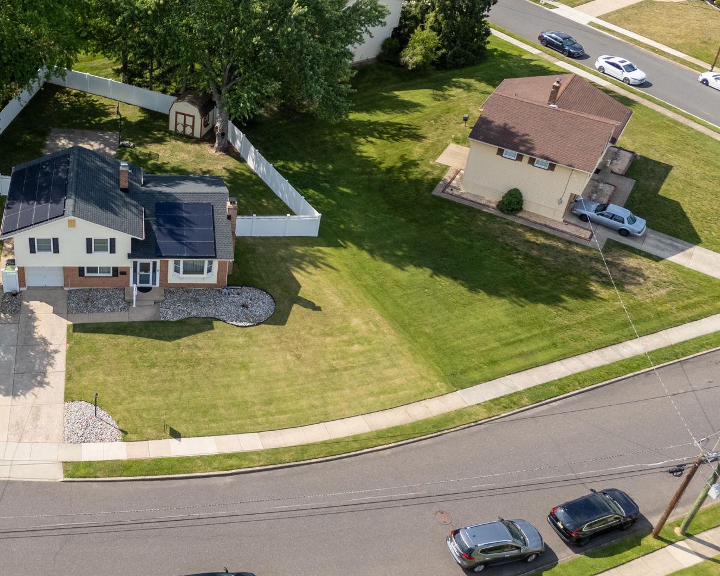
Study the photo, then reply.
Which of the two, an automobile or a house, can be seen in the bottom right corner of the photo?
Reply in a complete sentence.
The feature located in the bottom right corner of the photo is an automobile.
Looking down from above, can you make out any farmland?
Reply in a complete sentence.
No, no farmland is visible.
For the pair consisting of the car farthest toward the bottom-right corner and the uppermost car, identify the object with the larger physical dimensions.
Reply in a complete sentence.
The car farthest toward the bottom-right corner takes up more space than the uppermost car.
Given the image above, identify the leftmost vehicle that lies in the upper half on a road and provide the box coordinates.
[541,32,584,56]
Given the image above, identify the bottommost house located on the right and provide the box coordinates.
[462,75,637,220]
